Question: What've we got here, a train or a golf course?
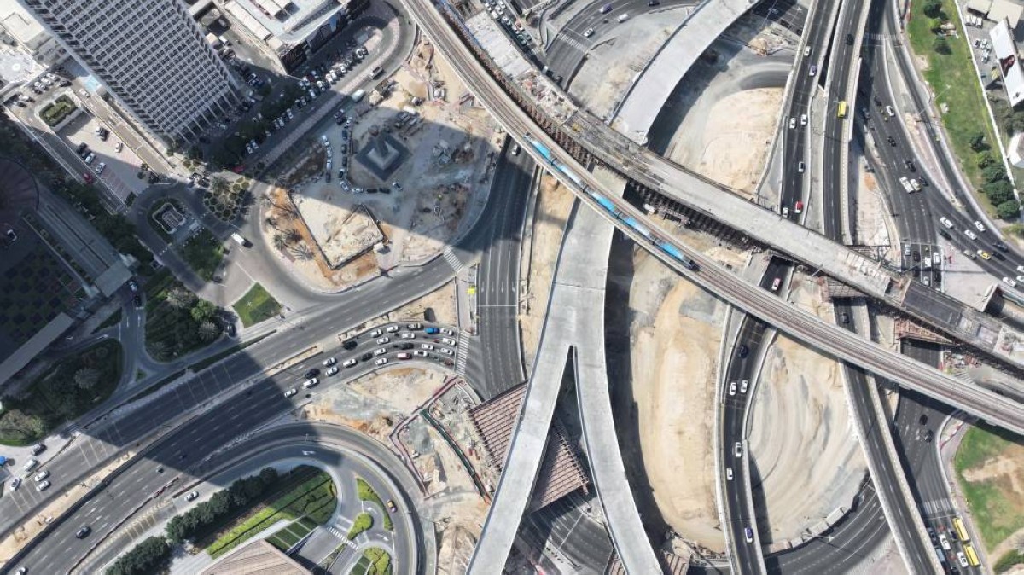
train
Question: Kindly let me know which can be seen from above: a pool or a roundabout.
pool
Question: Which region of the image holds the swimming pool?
top left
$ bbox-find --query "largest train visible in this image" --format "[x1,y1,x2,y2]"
[527,137,697,271]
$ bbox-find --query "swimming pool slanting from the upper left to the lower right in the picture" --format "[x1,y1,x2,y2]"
[70,60,108,100]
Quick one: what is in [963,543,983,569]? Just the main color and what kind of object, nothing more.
yellow bus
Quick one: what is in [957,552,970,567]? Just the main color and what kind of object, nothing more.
white vehicle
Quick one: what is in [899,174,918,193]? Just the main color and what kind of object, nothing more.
white vehicle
